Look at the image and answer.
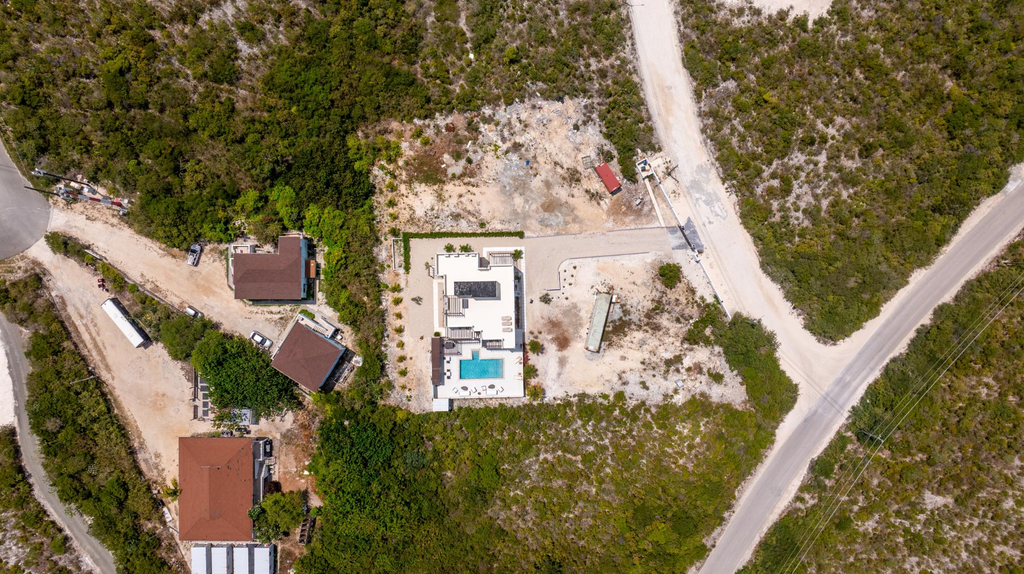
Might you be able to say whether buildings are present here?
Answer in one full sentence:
Yes, a building is visible in the scene.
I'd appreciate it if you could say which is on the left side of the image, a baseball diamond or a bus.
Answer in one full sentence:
What appears on the left side of the image is a bus.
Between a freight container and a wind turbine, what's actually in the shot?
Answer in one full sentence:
Of the two, only a freight container appears.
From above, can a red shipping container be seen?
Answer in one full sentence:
Yes, the image includes a red shipping container.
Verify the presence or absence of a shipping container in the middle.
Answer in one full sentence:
Yes, you'll find a shipping container in the middle.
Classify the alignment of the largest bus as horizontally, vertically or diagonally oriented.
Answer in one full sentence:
The largest bus is laid out diagonally.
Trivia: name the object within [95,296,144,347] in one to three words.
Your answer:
bus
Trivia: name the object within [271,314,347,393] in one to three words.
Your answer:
house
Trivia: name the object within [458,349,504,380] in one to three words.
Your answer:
swimming pool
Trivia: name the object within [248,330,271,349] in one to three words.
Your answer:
car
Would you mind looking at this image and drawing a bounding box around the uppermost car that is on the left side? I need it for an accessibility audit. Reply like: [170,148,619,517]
[185,244,199,266]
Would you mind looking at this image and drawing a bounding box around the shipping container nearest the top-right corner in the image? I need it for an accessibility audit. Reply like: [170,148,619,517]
[593,162,621,195]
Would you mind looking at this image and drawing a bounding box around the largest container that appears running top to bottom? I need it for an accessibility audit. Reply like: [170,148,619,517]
[583,292,612,352]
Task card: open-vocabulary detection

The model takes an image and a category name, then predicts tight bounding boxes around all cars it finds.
[248,330,271,349]
[185,244,199,266]
[181,305,201,319]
